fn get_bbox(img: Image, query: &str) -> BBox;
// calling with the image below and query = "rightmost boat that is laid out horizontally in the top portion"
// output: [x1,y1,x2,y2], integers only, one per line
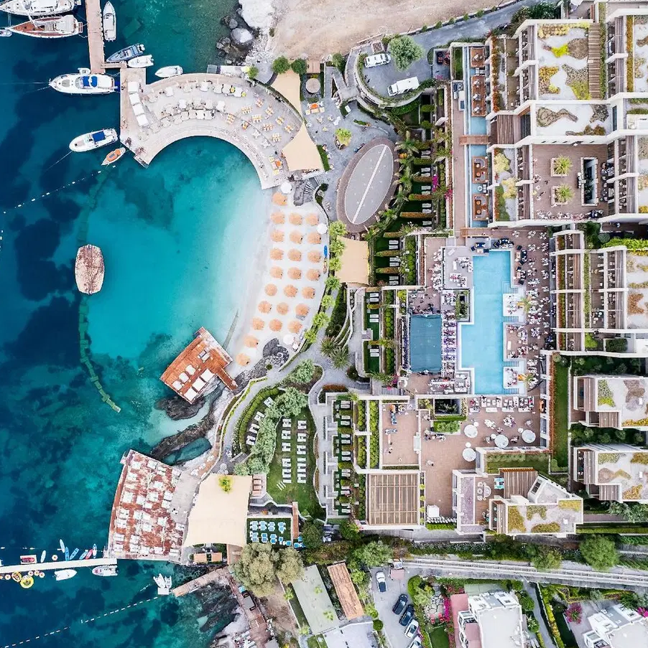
[156,65,183,77]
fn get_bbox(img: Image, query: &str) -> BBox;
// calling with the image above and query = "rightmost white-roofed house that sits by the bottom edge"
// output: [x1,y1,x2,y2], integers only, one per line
[578,594,648,648]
